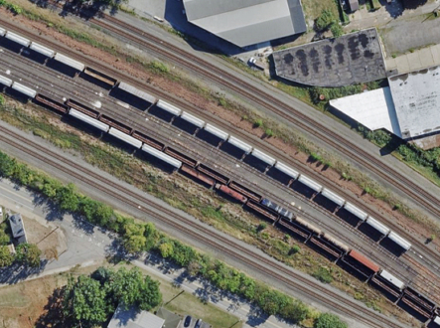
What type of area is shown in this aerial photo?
rail yard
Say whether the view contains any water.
No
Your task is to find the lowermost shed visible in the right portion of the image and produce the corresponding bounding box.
[408,134,440,151]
